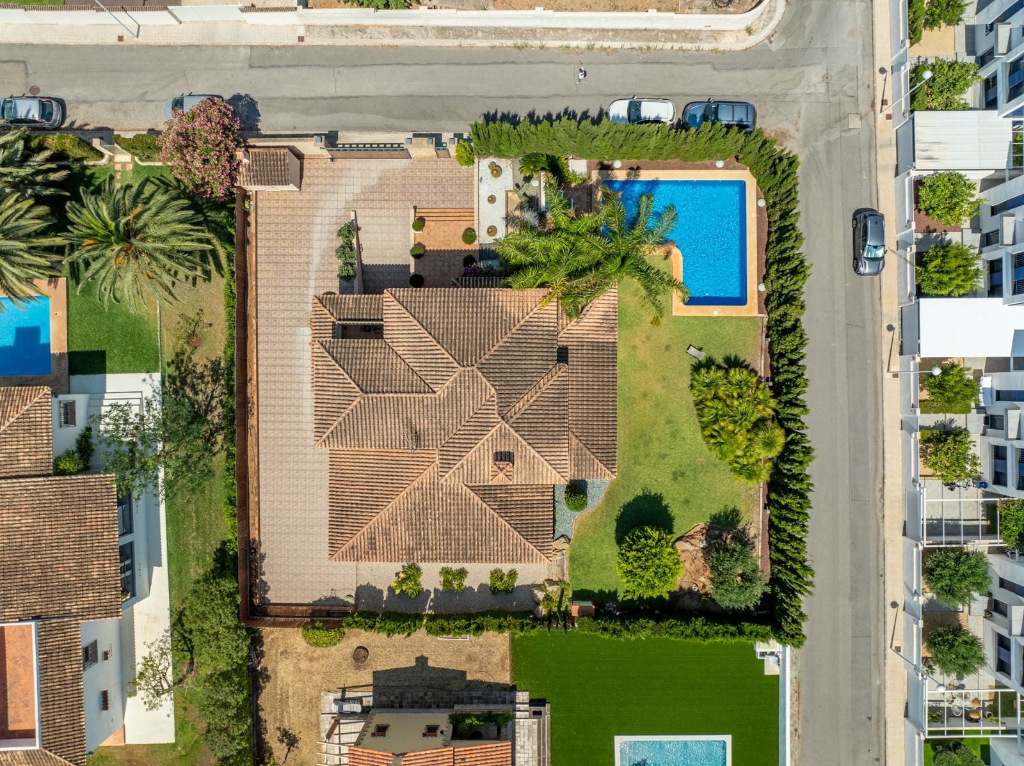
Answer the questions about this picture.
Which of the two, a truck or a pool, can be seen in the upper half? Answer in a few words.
pool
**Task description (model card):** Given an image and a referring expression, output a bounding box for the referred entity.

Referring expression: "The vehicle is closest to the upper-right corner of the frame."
[850,210,888,277]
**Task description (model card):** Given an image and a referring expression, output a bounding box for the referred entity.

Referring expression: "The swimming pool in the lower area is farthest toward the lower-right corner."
[623,743,725,766]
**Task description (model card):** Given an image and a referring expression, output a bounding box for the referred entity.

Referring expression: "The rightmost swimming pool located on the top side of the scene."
[603,180,747,305]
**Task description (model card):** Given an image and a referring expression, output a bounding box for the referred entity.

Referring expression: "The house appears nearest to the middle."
[310,275,619,566]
